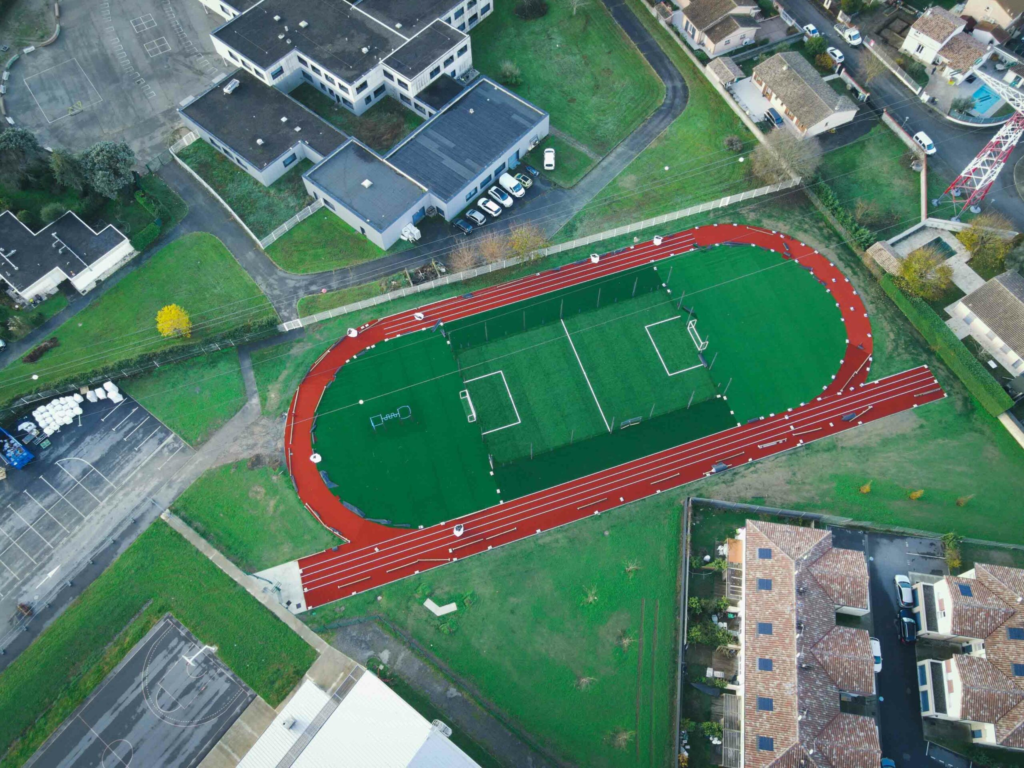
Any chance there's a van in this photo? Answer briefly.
Yes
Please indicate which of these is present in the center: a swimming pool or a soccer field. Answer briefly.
soccer field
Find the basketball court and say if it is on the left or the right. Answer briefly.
left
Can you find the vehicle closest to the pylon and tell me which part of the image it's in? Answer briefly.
top right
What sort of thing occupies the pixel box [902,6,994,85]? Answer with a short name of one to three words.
house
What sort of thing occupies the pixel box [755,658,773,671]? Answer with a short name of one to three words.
solar panel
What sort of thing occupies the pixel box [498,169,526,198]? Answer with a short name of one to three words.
van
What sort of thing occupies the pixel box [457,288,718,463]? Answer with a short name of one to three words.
soccer field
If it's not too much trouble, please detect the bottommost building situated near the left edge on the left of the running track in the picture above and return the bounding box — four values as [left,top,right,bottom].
[0,211,138,307]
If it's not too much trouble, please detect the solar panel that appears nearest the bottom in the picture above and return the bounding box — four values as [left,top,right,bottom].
[756,736,774,751]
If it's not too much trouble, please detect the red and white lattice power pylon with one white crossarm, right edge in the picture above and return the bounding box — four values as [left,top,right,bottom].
[930,57,1024,218]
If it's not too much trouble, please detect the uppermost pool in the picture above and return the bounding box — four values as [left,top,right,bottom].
[972,85,1001,114]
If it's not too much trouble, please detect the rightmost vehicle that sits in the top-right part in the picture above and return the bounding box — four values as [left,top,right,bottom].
[910,127,940,156]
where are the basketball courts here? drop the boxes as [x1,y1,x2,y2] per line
[19,612,257,768]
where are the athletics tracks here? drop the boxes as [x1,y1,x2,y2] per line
[284,224,947,610]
